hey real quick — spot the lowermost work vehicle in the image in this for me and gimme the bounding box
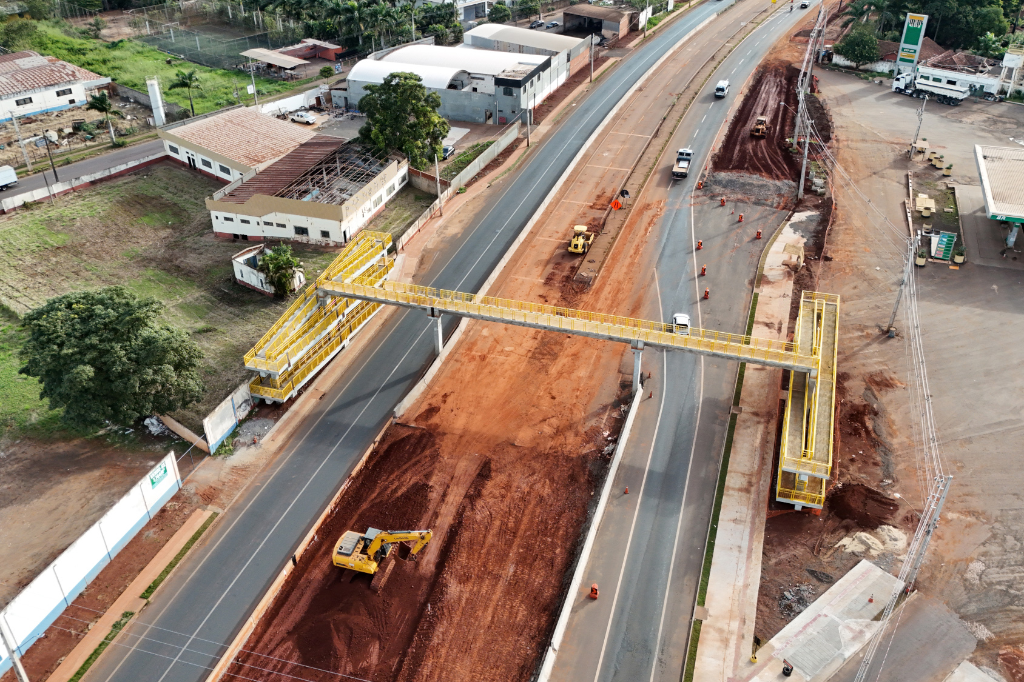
[329,529,437,596]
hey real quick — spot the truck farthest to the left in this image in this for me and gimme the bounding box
[0,161,21,185]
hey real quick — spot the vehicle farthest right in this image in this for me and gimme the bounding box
[895,70,976,105]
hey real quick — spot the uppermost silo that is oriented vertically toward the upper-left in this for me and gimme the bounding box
[142,76,165,128]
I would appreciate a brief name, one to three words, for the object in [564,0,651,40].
shed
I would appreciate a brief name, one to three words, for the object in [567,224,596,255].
work vehicle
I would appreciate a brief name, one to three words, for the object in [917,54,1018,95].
building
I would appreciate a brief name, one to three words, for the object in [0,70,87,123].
building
